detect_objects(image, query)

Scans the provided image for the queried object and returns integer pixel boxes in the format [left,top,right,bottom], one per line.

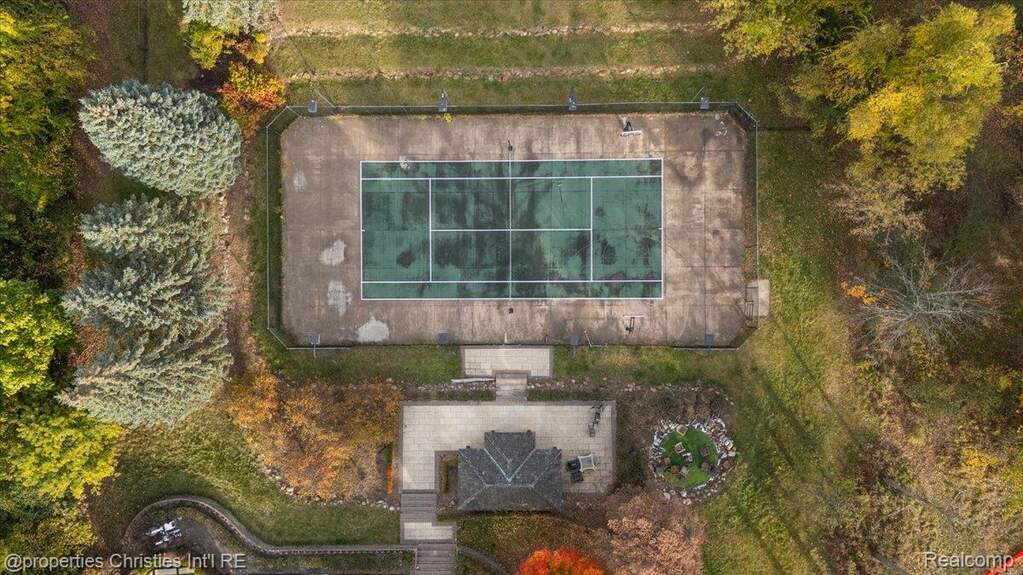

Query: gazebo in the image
[458,426,562,511]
